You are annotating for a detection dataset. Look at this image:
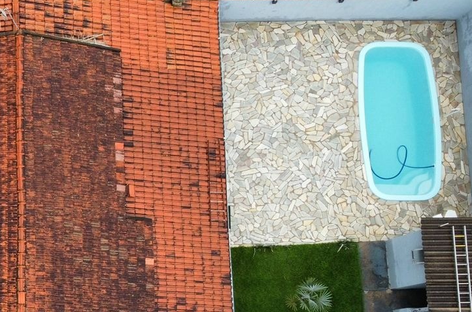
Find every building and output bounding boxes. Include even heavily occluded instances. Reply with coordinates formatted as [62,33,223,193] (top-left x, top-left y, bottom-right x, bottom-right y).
[0,0,237,312]
[387,217,472,312]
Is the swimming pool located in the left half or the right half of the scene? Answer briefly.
right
